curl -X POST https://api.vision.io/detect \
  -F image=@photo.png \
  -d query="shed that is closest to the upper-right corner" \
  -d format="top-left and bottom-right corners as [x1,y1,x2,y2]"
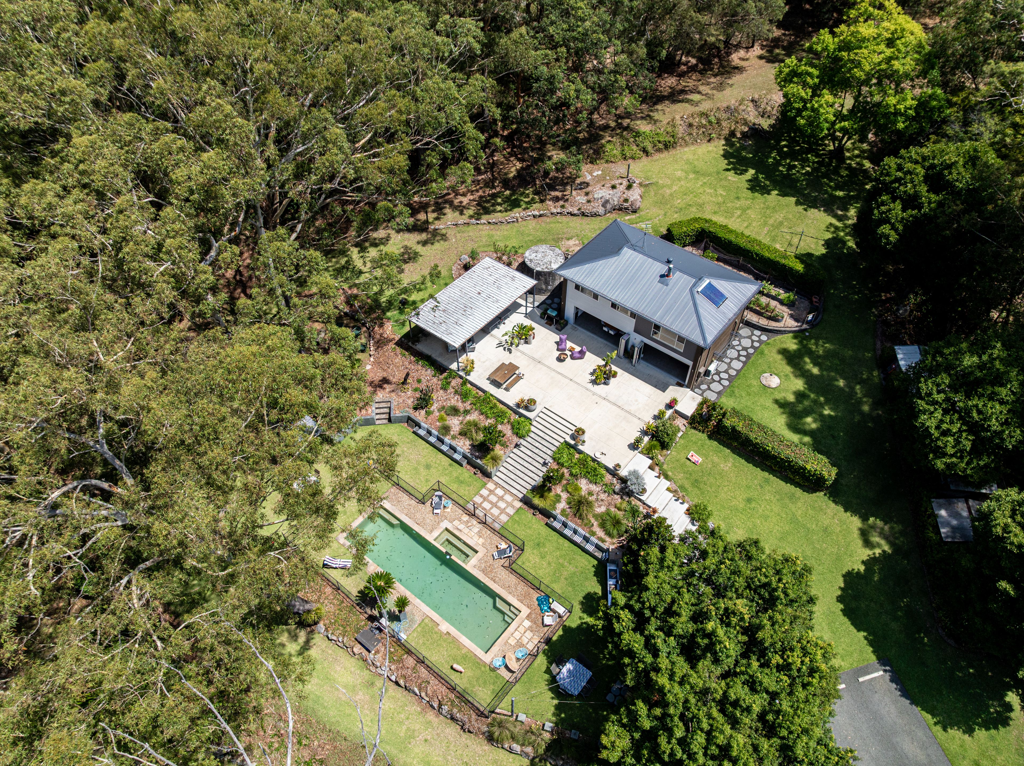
[886,345,931,388]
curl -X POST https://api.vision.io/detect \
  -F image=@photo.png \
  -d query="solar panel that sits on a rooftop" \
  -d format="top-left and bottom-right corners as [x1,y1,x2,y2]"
[693,276,729,308]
